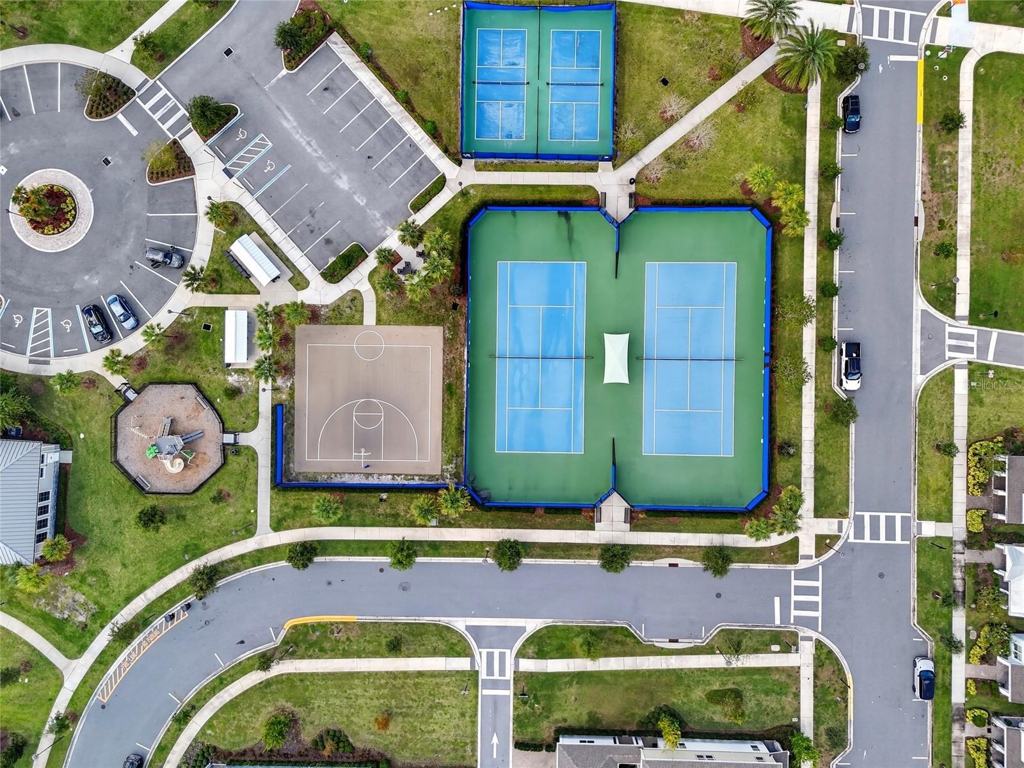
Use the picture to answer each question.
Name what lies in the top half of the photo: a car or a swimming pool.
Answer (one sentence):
The one visible in the top half of the photo is a car.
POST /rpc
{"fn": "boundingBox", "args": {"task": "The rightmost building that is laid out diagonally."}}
[230,234,284,287]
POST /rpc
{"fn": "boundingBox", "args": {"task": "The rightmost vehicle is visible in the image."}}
[913,656,936,699]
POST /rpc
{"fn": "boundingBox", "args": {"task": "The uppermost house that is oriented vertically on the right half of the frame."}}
[993,454,1024,526]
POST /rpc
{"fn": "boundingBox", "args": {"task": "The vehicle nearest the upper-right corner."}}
[840,94,863,135]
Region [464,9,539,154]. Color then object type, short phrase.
blue sports court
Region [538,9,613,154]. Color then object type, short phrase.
blue sports court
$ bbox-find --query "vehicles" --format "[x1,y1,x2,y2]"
[913,656,936,699]
[840,94,863,135]
[81,303,114,343]
[841,342,863,390]
[123,750,147,768]
[107,293,139,330]
[145,248,187,272]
